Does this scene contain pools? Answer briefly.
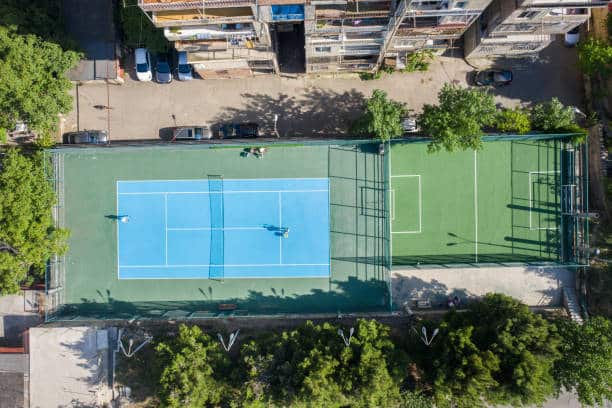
No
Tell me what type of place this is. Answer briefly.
sports ground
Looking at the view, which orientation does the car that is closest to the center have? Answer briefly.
horizontally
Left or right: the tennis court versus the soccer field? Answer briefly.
to its left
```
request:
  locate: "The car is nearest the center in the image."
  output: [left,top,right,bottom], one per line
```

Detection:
[218,121,259,141]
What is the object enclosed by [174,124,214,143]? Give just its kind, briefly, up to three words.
car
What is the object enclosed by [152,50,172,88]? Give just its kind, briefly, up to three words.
car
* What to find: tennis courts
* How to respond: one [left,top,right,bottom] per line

[65,145,385,315]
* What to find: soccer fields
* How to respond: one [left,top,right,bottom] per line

[388,140,563,263]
